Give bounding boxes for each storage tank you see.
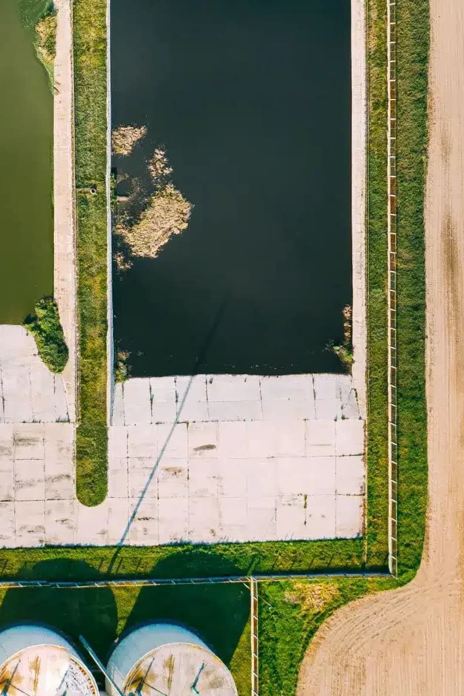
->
[0,623,98,696]
[108,622,235,696]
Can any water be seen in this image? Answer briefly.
Yes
